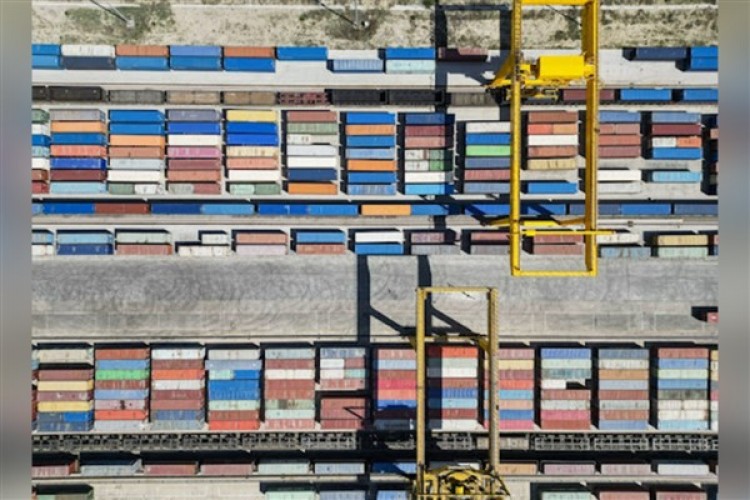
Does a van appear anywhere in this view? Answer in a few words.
No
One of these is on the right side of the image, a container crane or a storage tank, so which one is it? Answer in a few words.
container crane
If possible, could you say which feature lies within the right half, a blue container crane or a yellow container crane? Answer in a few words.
yellow container crane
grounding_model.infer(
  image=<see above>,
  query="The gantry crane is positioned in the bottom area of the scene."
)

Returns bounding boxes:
[401,286,509,500]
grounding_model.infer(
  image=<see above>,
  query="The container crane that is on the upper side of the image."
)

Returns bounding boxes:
[484,0,612,275]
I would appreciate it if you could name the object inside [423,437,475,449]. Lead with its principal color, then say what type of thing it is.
gray rail car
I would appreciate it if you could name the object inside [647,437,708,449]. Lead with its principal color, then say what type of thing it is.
gray rail car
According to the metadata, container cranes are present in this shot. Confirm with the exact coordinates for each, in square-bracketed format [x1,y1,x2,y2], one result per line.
[484,0,612,275]
[401,286,509,500]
